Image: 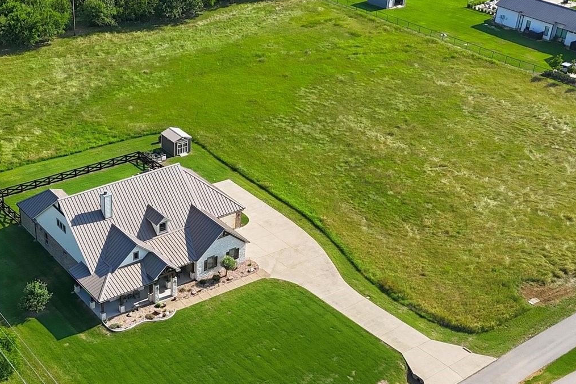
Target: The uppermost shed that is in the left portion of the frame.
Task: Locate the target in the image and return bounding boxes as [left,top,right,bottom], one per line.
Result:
[159,126,193,157]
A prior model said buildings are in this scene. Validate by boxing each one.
[368,0,406,9]
[159,126,193,157]
[16,164,253,320]
[494,0,576,43]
